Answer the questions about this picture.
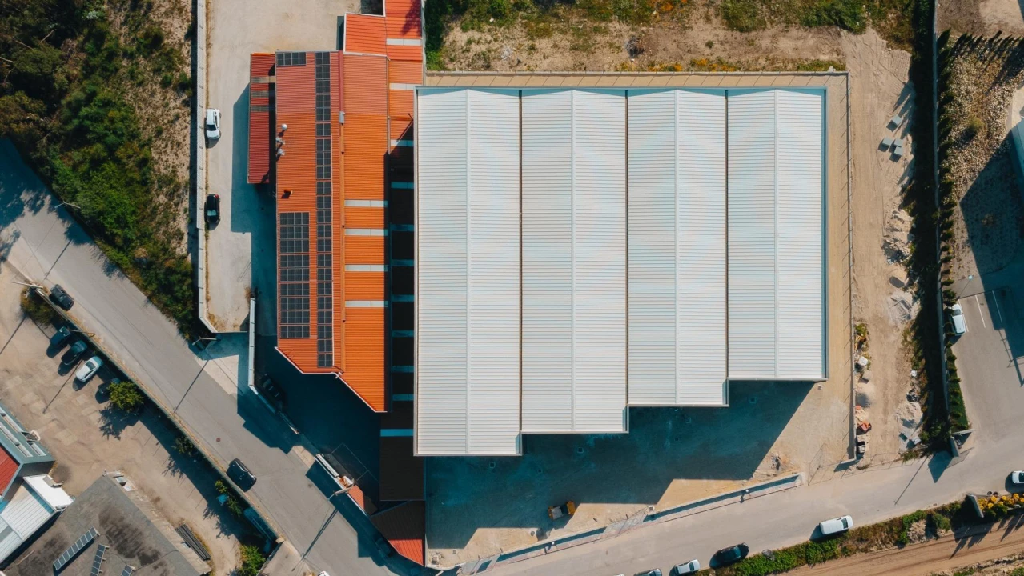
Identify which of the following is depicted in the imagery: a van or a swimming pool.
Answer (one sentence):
This aerial view contains a van.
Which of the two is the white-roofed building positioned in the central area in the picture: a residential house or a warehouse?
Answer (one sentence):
The white-roofed building positioned in the central area appears to be a warehouse.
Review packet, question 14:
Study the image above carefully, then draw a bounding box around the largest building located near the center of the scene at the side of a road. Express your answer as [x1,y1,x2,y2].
[414,86,827,457]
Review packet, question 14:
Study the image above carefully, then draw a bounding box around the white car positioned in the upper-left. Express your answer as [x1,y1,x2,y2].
[205,109,221,139]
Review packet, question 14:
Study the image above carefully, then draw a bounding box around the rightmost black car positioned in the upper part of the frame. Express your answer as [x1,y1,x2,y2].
[204,195,220,225]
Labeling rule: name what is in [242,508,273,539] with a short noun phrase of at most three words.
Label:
van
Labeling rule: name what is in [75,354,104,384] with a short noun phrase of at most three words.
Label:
car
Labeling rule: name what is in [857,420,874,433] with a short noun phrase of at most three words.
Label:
vehicle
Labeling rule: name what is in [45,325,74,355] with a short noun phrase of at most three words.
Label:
car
